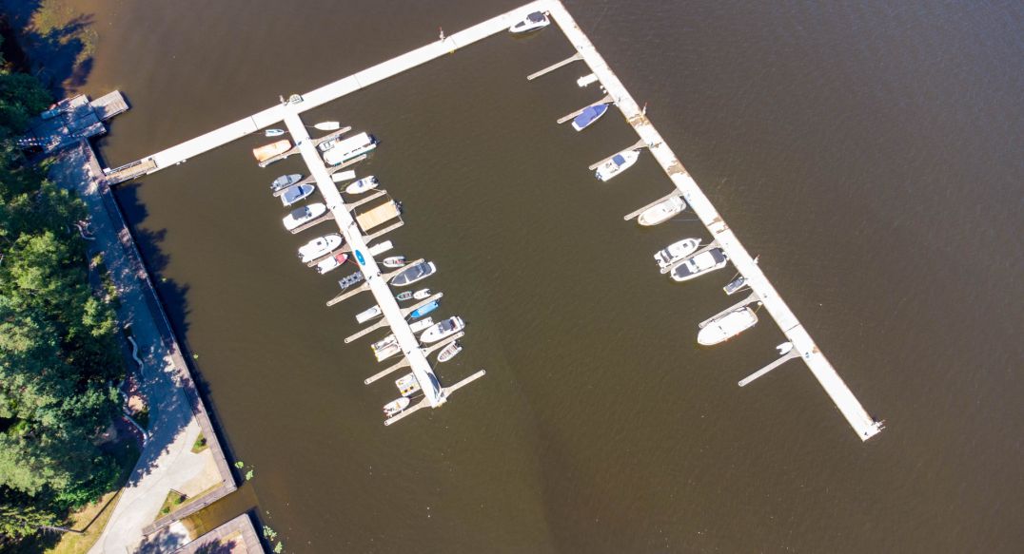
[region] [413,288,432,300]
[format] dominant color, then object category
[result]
white boat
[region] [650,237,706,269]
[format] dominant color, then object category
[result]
white boat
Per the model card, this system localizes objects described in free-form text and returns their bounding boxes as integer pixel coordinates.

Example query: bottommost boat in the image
[383,394,422,415]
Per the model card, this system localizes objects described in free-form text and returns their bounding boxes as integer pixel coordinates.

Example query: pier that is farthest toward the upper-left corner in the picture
[91,89,129,118]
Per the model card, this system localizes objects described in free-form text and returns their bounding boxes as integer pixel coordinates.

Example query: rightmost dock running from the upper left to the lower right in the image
[541,0,881,443]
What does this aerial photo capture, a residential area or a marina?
marina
